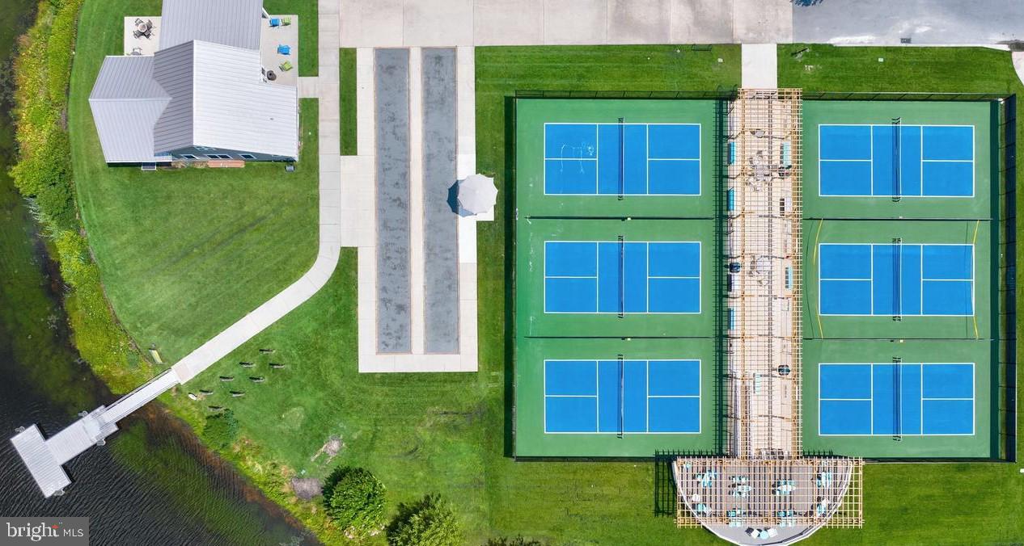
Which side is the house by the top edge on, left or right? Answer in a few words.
left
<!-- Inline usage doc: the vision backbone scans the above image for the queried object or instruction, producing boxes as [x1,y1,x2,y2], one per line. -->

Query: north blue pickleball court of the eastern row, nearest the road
[797,100,1000,219]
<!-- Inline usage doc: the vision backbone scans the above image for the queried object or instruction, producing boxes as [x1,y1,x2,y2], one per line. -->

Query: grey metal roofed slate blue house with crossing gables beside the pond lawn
[89,0,302,169]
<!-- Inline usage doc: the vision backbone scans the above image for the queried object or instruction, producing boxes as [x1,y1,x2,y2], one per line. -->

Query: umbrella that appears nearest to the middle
[455,173,499,216]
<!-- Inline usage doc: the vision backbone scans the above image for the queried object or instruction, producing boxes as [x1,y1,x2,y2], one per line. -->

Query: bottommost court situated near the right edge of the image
[797,339,1000,457]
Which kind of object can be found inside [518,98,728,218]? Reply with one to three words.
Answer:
sports court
